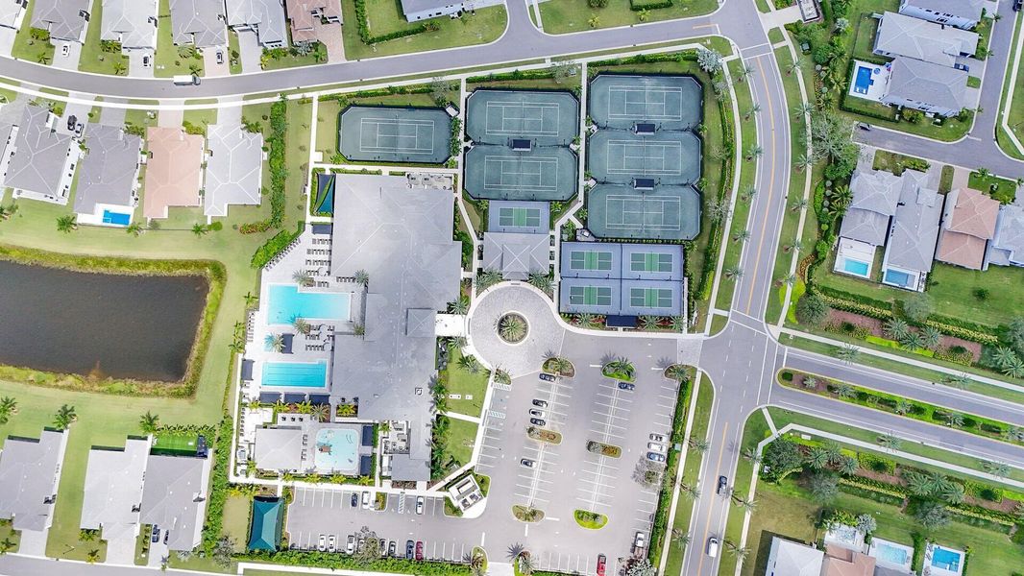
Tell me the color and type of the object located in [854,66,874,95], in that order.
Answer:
blue swimming pool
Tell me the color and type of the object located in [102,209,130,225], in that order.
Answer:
blue swimming pool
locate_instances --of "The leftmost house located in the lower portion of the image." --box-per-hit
[0,428,70,530]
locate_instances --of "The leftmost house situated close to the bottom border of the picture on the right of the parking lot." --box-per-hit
[760,533,824,576]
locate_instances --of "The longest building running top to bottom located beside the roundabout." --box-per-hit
[332,173,461,482]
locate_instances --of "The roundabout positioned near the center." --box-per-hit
[471,288,566,379]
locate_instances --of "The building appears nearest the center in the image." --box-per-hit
[482,232,551,280]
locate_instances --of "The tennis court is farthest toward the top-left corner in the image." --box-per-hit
[338,106,451,164]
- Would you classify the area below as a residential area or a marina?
residential area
